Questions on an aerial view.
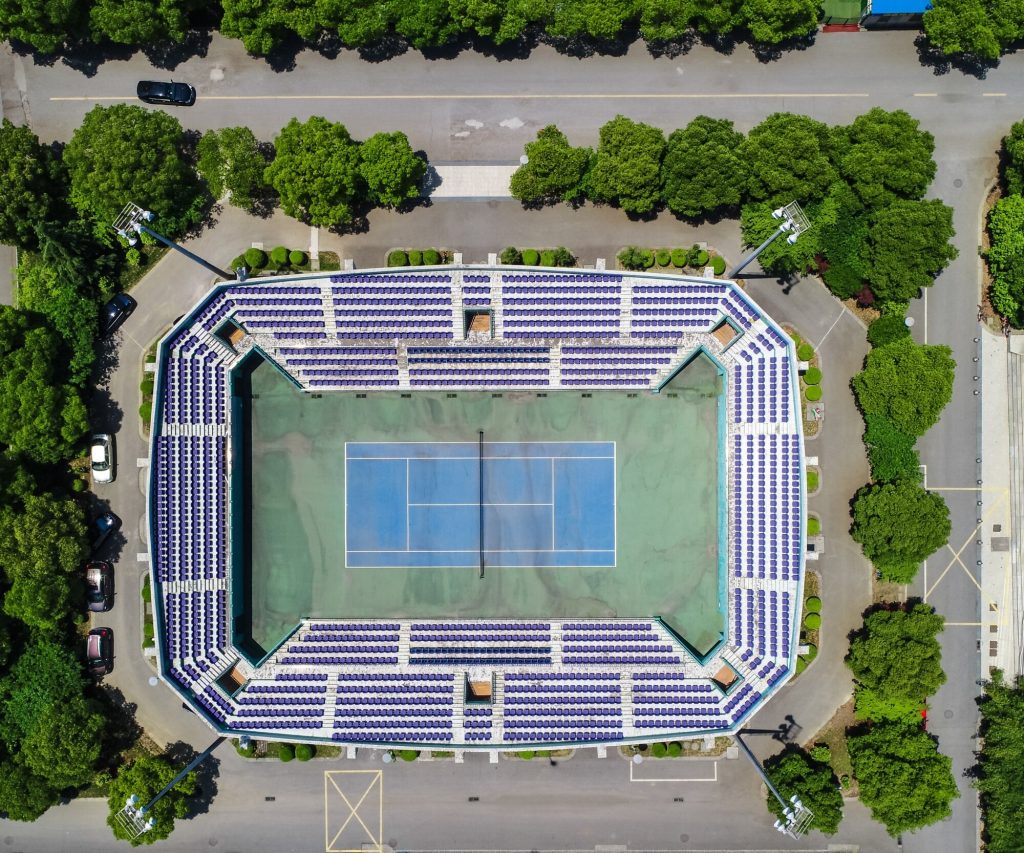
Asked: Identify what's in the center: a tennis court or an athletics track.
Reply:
tennis court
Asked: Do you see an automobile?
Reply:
Yes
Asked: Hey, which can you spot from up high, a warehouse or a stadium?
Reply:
stadium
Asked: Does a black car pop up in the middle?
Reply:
No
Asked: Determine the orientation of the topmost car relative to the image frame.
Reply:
from left to right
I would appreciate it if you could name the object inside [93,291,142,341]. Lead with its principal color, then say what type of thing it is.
black car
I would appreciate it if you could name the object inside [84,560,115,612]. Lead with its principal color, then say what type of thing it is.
black car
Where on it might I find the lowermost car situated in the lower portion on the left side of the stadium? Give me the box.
[85,625,115,675]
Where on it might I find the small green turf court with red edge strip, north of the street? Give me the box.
[821,0,861,31]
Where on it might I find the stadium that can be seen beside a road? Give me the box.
[137,253,819,762]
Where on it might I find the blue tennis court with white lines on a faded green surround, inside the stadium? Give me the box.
[243,355,719,654]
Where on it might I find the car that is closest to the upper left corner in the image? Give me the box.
[139,79,197,109]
